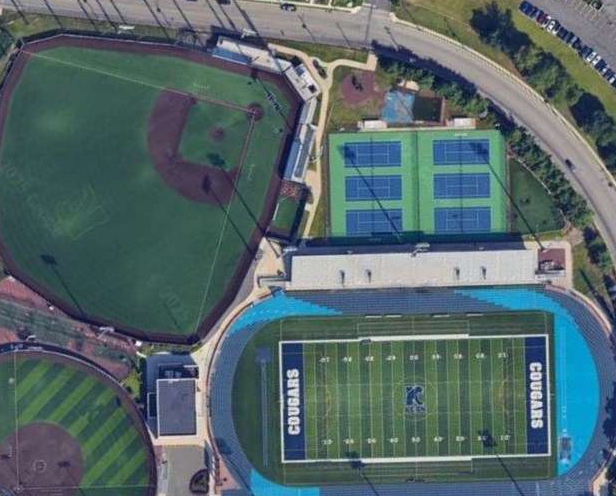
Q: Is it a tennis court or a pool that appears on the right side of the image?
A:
tennis court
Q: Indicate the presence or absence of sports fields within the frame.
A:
Yes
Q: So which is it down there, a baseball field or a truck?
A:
baseball field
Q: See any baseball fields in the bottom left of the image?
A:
Yes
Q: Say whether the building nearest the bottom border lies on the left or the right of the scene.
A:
left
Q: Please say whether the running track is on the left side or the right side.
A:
right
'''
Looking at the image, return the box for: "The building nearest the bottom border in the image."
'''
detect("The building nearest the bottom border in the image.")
[147,364,199,438]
